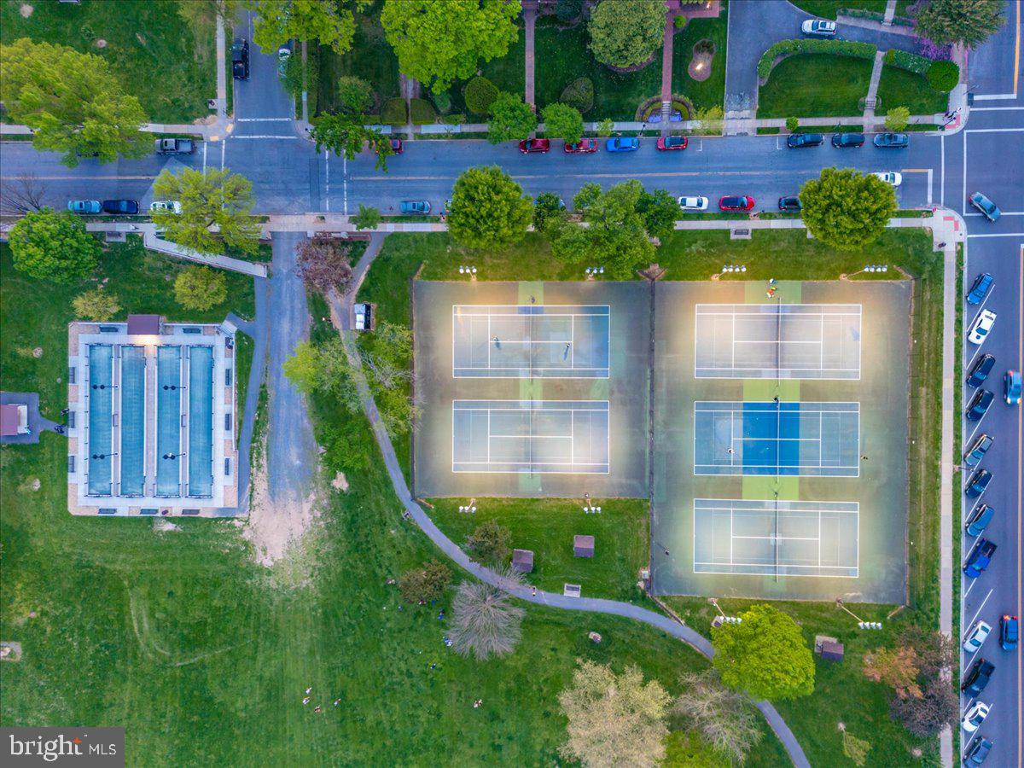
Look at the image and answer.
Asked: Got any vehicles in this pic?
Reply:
Yes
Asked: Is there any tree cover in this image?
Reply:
Yes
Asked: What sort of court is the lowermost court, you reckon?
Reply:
tennis court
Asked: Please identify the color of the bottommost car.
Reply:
blue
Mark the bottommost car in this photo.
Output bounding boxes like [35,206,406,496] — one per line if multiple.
[964,740,992,768]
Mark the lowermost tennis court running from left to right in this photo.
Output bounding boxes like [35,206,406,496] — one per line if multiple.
[656,488,908,605]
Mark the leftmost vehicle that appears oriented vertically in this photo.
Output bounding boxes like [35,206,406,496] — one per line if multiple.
[231,37,248,79]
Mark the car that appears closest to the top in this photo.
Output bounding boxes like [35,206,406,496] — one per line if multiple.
[804,16,840,34]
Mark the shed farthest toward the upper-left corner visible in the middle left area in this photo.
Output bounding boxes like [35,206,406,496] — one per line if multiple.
[127,315,174,335]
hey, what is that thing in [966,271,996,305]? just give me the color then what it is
blue car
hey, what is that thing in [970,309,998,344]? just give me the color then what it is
white car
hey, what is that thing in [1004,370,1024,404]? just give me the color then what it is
blue car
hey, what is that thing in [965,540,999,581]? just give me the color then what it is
blue truck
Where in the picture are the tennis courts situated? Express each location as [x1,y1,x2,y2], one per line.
[415,390,651,499]
[415,281,651,390]
[656,390,910,488]
[657,279,911,390]
[656,488,908,605]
